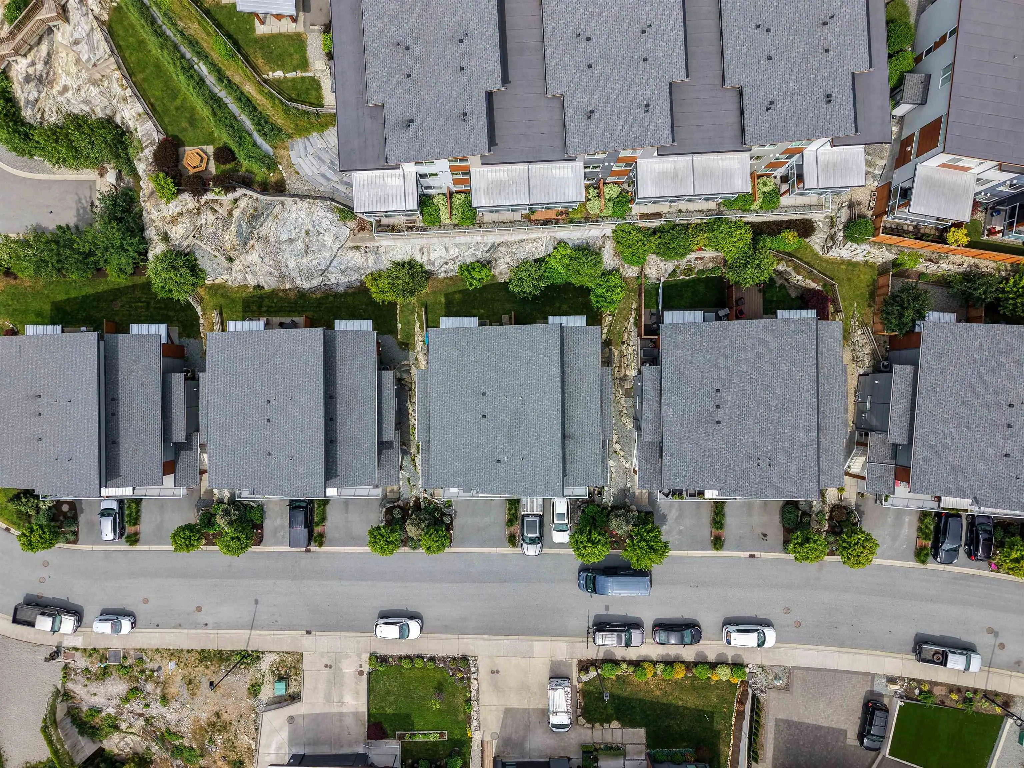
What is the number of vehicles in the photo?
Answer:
16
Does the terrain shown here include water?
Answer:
No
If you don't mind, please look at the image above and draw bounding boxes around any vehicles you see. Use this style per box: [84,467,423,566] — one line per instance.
[929,512,962,564]
[961,513,993,562]
[548,673,572,727]
[913,640,976,672]
[578,566,649,594]
[289,497,315,549]
[549,497,572,544]
[520,498,544,551]
[593,621,642,648]
[100,497,127,542]
[375,615,423,641]
[651,621,699,647]
[95,611,139,636]
[721,622,773,649]
[13,603,82,634]
[856,696,887,748]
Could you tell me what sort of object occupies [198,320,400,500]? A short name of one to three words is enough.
house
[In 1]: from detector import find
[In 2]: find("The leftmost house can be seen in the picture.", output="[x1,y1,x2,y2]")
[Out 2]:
[0,323,201,499]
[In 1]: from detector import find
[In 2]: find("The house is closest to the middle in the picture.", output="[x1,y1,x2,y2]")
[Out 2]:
[416,315,613,500]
